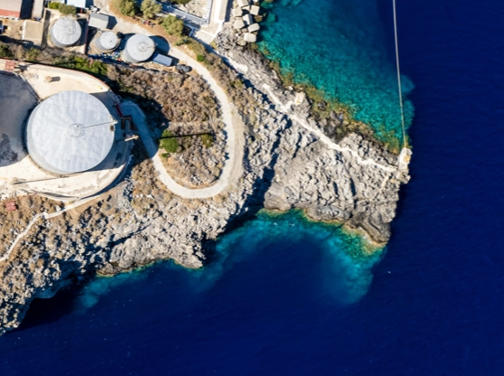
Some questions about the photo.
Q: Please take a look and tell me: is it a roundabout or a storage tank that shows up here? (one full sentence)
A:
There is a storage tank in the scene.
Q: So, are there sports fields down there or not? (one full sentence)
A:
No, the frame has no sports field in it.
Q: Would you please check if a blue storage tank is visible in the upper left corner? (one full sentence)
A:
No, the scene shows no blue storage tank in the upper left corner.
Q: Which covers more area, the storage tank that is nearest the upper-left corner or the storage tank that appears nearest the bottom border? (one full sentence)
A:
The storage tank that appears nearest the bottom border takes up more space than the storage tank that is nearest the upper-left corner.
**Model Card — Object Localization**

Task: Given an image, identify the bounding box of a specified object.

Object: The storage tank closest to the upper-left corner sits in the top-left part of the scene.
[50,16,82,48]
